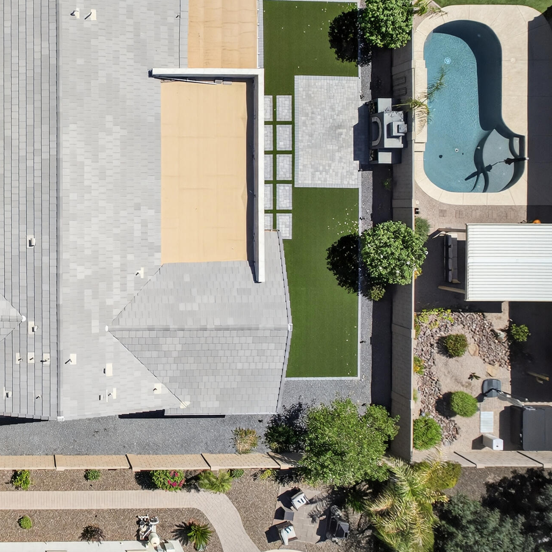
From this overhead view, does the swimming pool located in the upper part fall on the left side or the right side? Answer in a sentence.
The swimming pool located in the upper part sits on the right side.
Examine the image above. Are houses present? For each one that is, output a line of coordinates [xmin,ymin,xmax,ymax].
[0,0,293,424]
[0,543,181,552]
